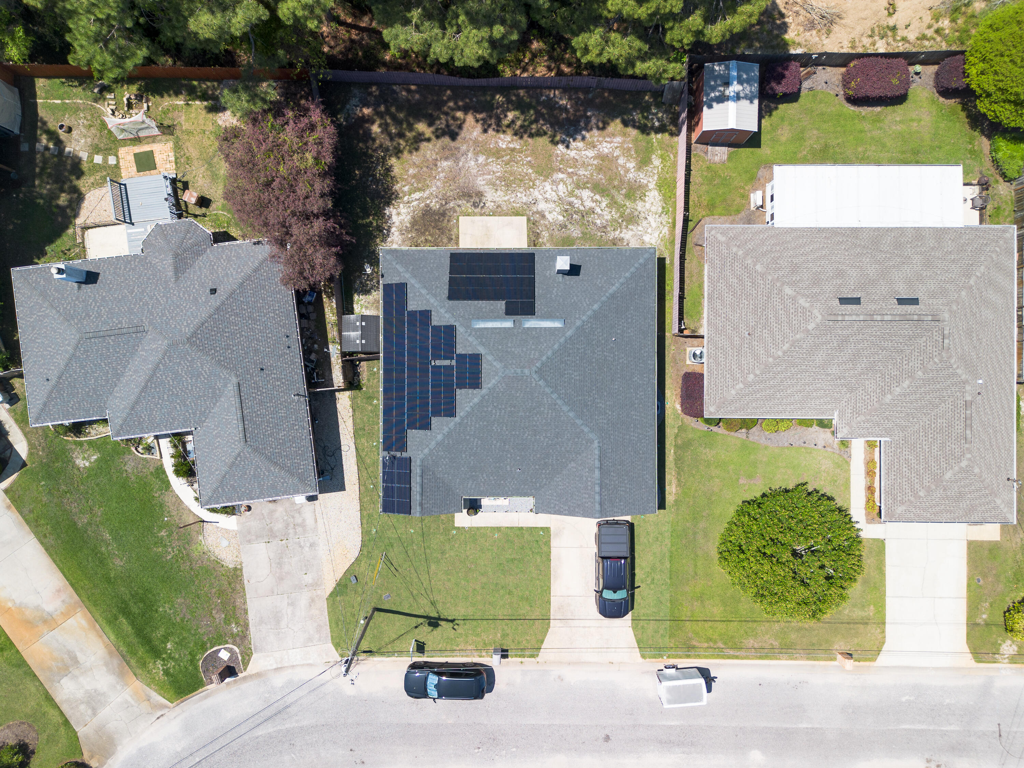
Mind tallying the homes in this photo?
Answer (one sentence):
The number of homes here is 3.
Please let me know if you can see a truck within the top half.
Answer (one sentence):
No, there's no truck to be seen within the top half.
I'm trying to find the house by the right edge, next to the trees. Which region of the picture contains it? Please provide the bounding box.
[701,163,1019,525]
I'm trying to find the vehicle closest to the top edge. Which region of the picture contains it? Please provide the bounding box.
[592,518,635,617]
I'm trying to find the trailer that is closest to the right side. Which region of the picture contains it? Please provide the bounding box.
[656,664,717,708]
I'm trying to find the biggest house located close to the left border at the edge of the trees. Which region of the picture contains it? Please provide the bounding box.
[8,216,322,511]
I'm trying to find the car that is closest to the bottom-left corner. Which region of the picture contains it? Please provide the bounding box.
[405,660,486,704]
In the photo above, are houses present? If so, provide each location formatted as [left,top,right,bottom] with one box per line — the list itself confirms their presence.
[701,163,1019,525]
[8,216,322,511]
[379,246,659,519]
